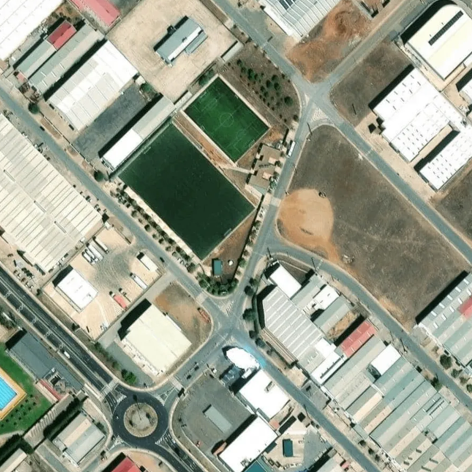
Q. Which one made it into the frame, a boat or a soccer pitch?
soccer pitch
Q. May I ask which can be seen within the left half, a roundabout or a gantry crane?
roundabout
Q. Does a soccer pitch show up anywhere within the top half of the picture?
Yes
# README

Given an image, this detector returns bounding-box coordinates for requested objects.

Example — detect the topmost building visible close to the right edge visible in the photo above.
[404,5,472,80]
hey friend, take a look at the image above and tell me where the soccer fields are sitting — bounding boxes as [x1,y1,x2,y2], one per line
[111,119,260,266]
[179,73,273,165]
